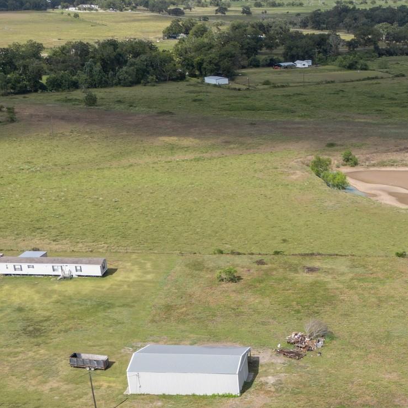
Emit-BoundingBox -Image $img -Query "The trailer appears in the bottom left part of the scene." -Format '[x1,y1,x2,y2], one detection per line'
[68,350,114,370]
